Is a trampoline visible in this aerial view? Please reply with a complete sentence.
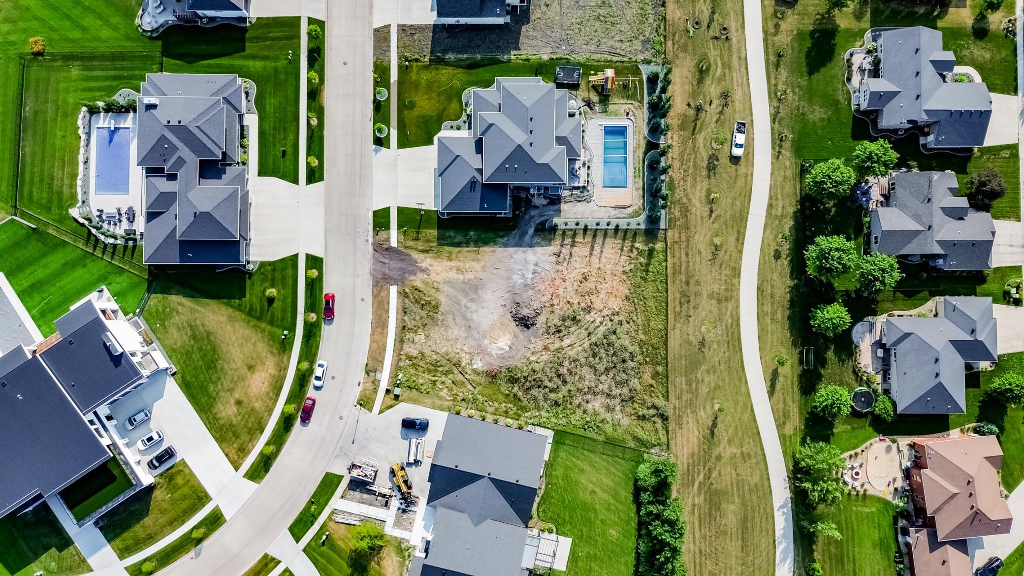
Yes, there's a trampoline here.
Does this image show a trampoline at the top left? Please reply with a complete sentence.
No, no trampoline appears at the top left.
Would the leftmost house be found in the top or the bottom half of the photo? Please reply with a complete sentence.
The bottom half of the photo is where the leftmost house is.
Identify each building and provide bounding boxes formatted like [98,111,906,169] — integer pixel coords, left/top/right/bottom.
[0,298,177,528]
[854,26,991,148]
[186,0,251,18]
[136,73,255,265]
[875,296,998,414]
[899,429,1014,576]
[437,77,583,212]
[436,0,506,25]
[409,412,548,576]
[865,171,996,270]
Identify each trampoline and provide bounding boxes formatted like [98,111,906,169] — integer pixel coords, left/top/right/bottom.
[556,61,582,85]
[854,388,878,414]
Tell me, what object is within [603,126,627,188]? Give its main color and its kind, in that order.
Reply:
blue swimming pool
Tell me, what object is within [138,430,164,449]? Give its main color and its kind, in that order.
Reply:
white car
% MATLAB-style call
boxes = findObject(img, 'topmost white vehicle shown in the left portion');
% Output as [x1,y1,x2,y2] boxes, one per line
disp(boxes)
[313,360,328,387]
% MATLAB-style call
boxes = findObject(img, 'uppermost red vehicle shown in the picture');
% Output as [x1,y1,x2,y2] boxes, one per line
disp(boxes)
[324,293,336,318]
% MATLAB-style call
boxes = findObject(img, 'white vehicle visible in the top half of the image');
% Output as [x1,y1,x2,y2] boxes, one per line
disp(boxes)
[730,121,746,157]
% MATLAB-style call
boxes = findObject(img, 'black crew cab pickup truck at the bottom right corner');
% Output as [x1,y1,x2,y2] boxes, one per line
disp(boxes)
[974,553,1006,576]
